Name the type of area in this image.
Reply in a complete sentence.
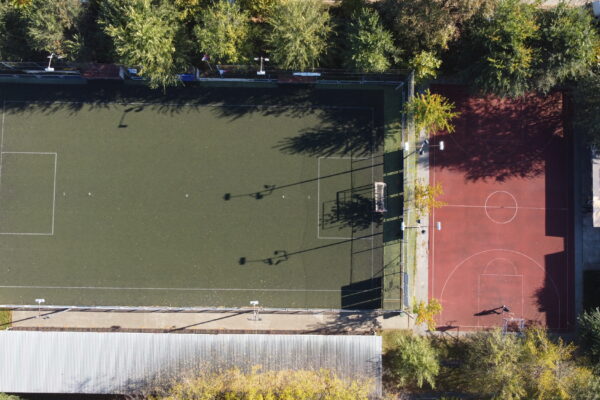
This image shows a sports ground.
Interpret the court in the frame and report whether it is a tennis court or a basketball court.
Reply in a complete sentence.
It looks like the court is a basketball court.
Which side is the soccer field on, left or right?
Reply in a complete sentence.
The soccer field sits on the left side.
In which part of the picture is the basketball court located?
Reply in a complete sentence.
The basketball court is located in the right region of the scene.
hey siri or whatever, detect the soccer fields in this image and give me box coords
[0,78,404,308]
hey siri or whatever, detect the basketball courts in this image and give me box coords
[428,88,574,331]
